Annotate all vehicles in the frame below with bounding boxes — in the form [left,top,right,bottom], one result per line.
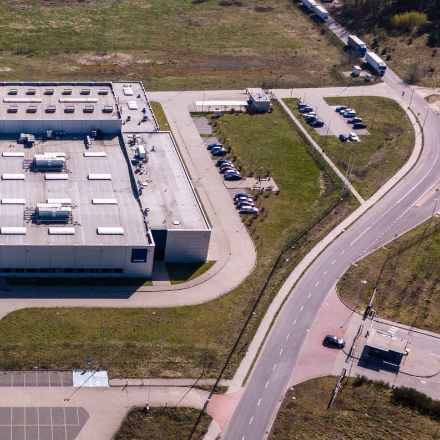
[296,103,310,109]
[225,170,240,175]
[347,35,368,55]
[302,0,316,8]
[312,4,330,19]
[346,134,360,141]
[339,109,353,114]
[306,115,318,122]
[240,206,259,213]
[212,150,228,157]
[300,107,314,113]
[342,111,357,118]
[238,201,254,208]
[310,121,323,127]
[302,112,316,118]
[353,124,366,129]
[234,193,252,200]
[207,143,223,149]
[337,134,350,141]
[347,118,363,124]
[322,335,345,347]
[222,165,236,172]
[212,147,225,152]
[335,106,347,112]
[364,53,387,75]
[225,173,241,180]
[216,159,232,165]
